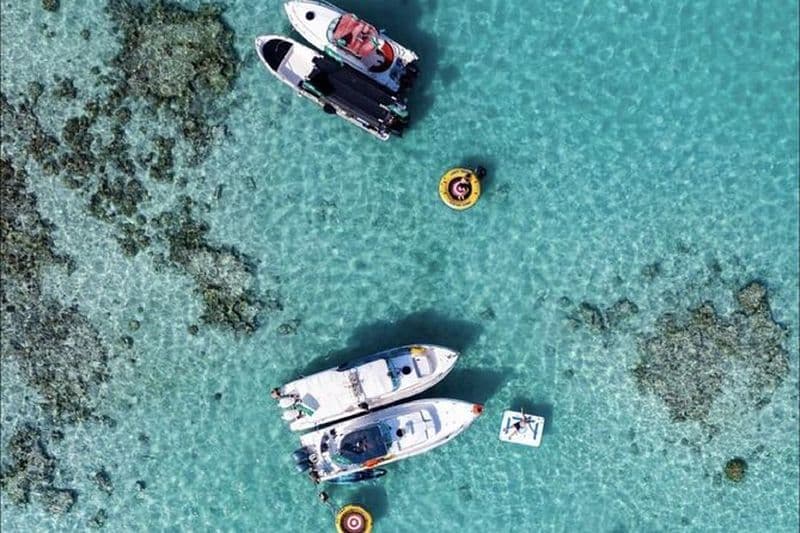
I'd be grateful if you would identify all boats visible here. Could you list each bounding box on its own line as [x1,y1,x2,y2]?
[280,348,460,431]
[255,36,409,139]
[329,467,384,484]
[291,400,483,482]
[283,0,418,94]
